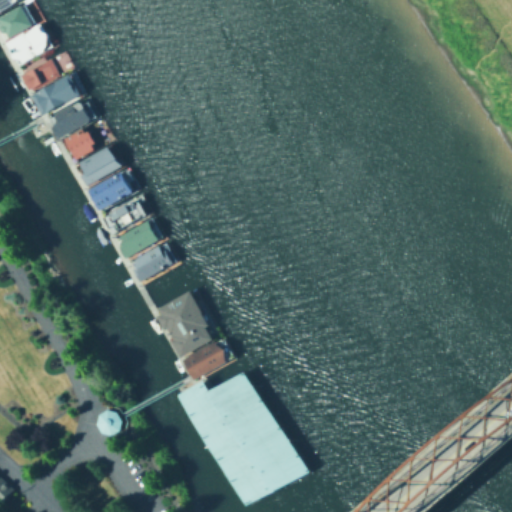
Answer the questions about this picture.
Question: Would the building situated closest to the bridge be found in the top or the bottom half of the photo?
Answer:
bottom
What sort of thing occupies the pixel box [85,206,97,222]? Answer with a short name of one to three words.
boat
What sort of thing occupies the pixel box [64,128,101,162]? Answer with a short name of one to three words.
house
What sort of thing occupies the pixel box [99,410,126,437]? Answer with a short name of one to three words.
building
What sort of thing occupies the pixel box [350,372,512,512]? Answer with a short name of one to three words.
bridge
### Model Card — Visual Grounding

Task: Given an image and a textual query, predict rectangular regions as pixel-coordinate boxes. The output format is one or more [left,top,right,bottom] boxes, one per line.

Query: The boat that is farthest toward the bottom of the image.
[98,228,110,246]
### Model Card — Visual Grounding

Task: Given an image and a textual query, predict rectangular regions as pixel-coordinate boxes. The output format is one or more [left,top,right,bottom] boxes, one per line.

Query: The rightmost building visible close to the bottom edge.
[182,372,311,508]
